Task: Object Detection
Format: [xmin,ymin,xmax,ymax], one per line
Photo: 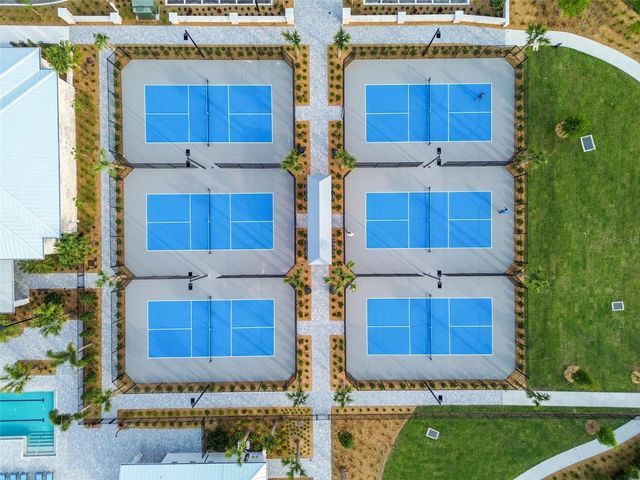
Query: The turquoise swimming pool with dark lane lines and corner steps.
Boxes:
[0,390,56,457]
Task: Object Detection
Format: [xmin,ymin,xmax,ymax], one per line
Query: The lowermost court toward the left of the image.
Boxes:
[124,275,296,382]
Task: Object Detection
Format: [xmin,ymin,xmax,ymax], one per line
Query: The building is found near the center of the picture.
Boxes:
[308,175,331,264]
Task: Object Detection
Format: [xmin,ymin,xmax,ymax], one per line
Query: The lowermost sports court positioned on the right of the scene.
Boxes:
[344,274,516,381]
